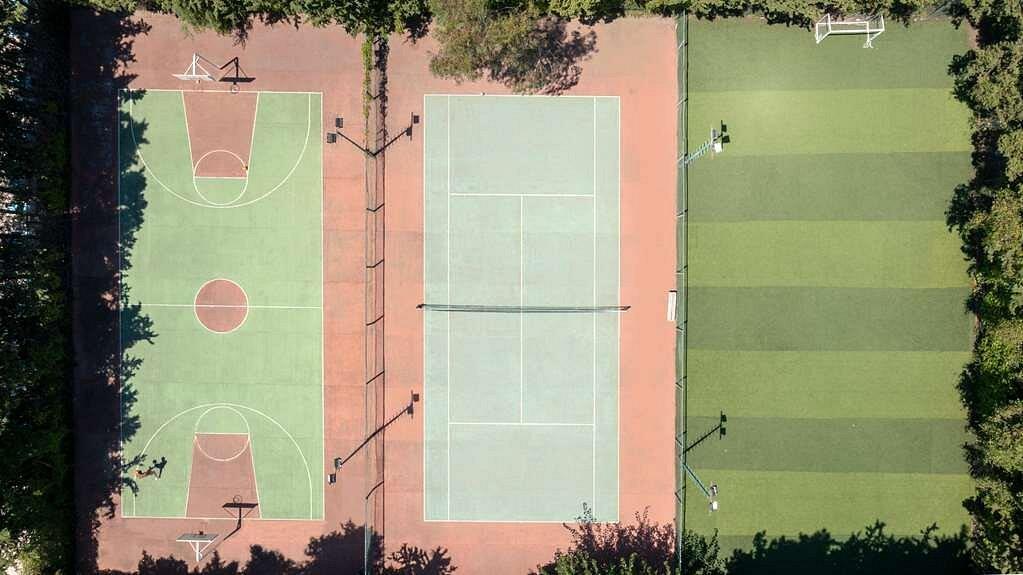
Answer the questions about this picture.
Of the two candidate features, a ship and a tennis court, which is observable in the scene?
tennis court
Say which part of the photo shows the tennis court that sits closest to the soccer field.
center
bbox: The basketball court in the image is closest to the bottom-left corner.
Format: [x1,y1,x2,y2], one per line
[119,91,323,519]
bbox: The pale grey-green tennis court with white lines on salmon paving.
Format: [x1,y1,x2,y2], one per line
[424,96,621,522]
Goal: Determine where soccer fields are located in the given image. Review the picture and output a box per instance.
[674,18,974,575]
